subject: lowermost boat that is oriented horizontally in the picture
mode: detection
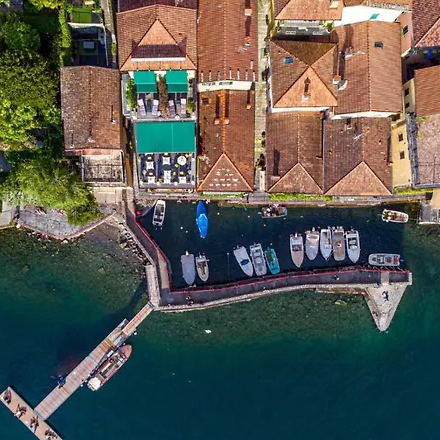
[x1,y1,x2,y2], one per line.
[368,253,404,266]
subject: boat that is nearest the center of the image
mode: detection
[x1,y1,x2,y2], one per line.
[195,202,208,238]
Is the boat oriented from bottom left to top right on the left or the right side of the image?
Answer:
left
